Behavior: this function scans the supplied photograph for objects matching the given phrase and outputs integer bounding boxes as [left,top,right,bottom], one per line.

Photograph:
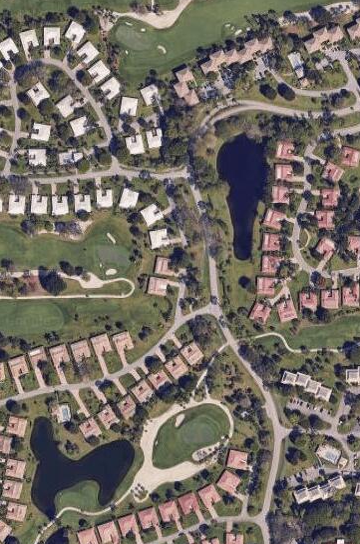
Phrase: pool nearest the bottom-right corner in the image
[317,444,341,464]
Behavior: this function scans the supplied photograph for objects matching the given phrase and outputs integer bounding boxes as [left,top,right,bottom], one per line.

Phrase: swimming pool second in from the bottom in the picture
[57,404,70,422]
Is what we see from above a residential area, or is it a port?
residential area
